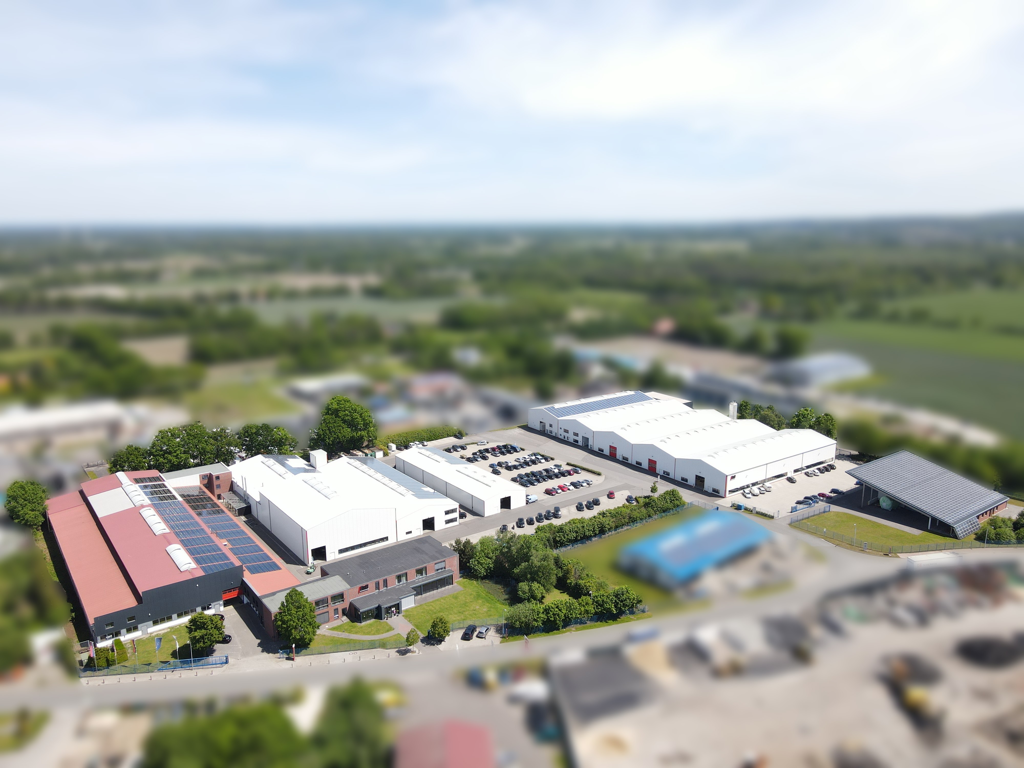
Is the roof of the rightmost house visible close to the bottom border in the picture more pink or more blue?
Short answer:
pink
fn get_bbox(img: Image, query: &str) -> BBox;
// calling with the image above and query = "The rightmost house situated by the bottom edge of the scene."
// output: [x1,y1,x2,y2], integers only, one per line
[416,715,501,768]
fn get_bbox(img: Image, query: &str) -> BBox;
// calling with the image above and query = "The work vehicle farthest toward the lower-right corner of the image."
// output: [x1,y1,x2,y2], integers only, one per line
[891,676,929,703]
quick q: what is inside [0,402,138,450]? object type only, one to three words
building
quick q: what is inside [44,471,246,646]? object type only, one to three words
building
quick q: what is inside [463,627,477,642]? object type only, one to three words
car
